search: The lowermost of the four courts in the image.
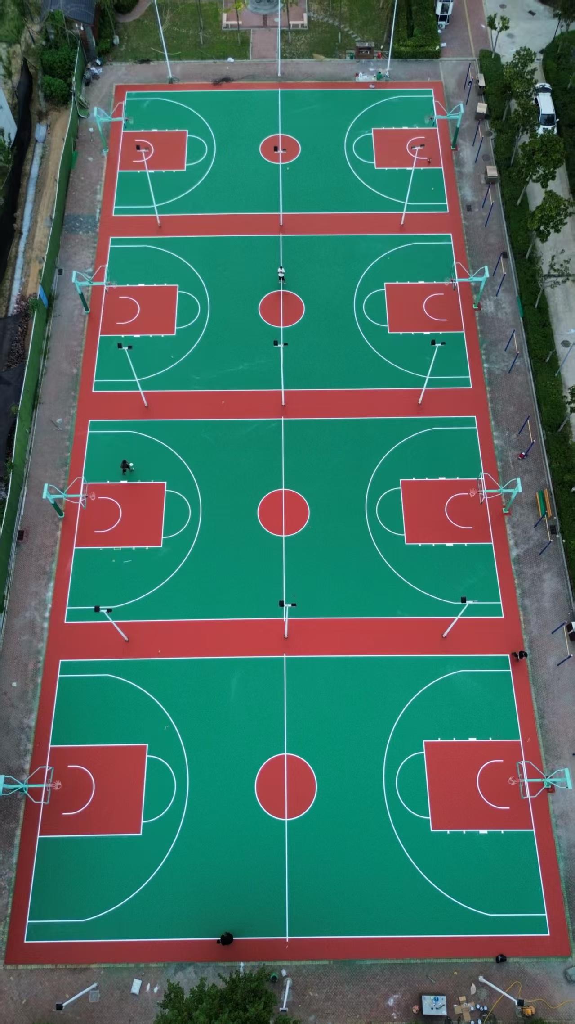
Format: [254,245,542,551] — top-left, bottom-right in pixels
[26,653,549,942]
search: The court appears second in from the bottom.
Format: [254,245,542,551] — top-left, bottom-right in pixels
[64,415,505,622]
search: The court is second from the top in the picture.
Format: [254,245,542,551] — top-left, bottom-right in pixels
[91,233,473,391]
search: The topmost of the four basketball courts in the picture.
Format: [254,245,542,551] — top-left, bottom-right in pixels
[112,89,449,215]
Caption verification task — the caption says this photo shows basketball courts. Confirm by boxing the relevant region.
[64,415,505,622]
[112,89,449,215]
[91,233,473,391]
[26,653,549,942]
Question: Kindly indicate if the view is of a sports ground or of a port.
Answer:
sports ground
